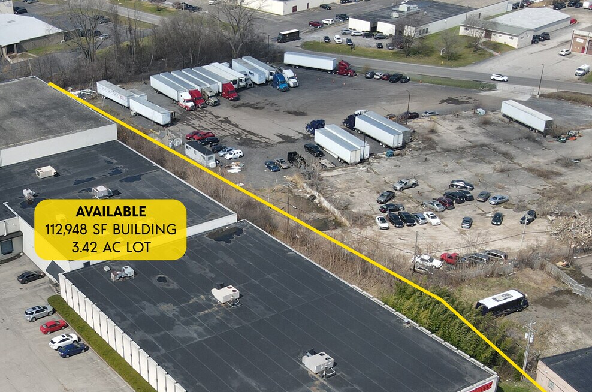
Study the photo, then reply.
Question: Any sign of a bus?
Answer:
Yes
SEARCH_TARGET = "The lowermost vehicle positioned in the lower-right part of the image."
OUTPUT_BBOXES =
[472,282,536,318]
